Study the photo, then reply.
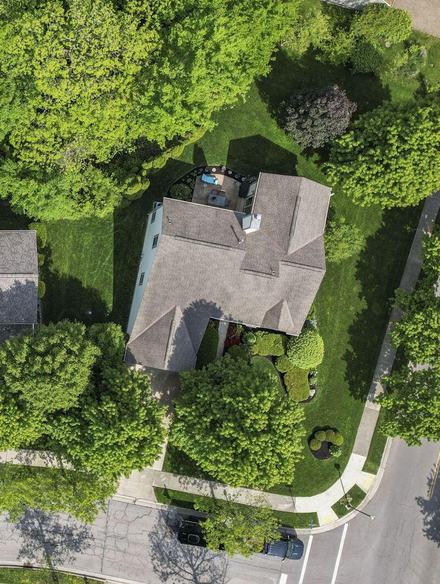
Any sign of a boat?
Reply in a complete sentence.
No, I can't see a single boat in this photo.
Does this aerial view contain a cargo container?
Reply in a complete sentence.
No, the frame has no cargo container in it.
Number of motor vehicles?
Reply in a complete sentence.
The picture shows 2 motor vehicles.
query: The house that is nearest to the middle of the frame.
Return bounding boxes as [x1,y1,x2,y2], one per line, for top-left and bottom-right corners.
[122,172,332,373]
